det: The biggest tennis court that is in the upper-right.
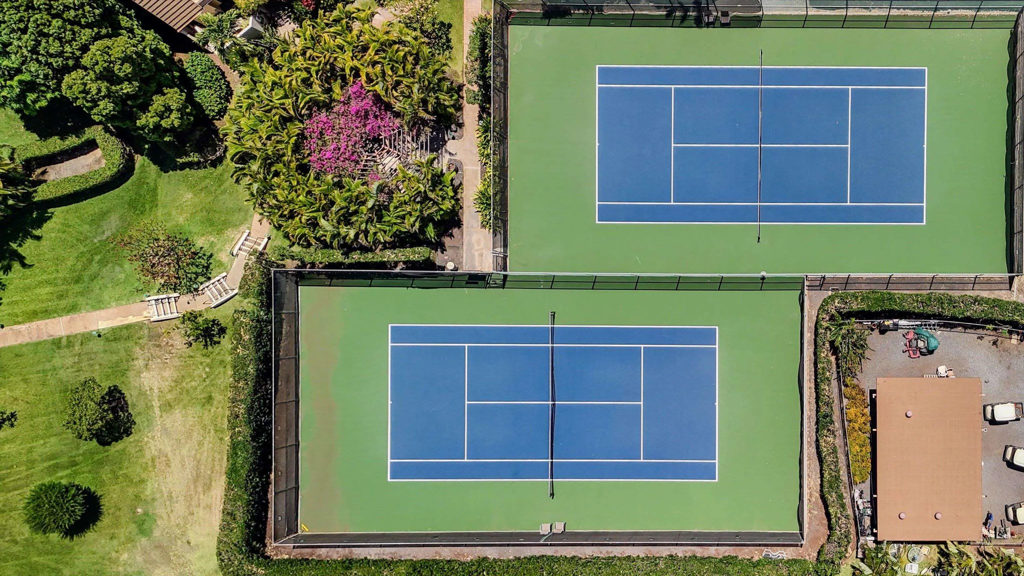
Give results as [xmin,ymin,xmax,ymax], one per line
[509,14,1014,273]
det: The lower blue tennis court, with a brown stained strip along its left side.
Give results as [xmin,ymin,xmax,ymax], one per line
[300,276,802,532]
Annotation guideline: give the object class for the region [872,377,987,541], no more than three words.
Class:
shed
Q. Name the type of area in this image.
sports ground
